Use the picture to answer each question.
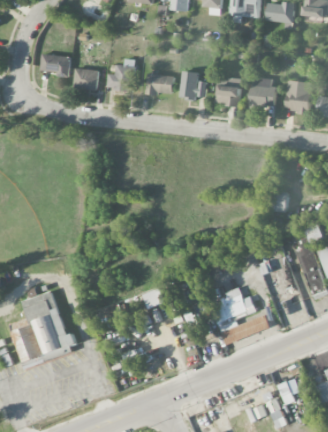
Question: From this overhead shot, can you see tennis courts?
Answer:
No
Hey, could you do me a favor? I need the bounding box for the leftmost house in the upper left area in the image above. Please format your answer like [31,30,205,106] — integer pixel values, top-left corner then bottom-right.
[44,54,71,76]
